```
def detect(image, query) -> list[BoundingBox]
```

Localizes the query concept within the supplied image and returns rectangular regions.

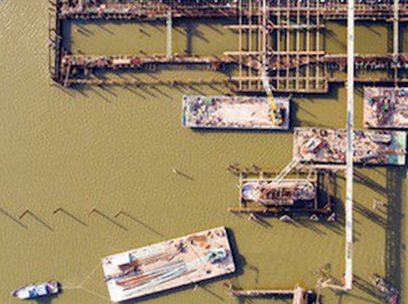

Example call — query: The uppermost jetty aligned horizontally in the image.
[229,165,337,218]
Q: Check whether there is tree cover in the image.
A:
No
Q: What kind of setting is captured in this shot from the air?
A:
port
